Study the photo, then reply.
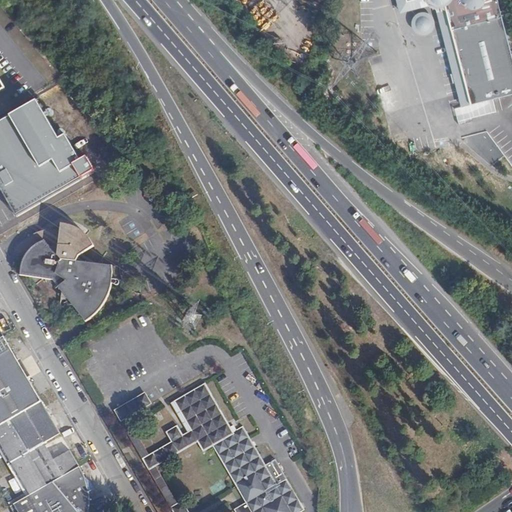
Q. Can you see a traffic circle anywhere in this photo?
No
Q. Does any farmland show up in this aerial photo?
No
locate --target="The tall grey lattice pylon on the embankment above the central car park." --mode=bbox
[180,310,202,332]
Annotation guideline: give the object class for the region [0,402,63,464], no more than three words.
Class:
building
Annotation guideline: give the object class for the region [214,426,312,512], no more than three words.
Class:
building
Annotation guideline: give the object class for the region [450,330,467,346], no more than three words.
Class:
vehicle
